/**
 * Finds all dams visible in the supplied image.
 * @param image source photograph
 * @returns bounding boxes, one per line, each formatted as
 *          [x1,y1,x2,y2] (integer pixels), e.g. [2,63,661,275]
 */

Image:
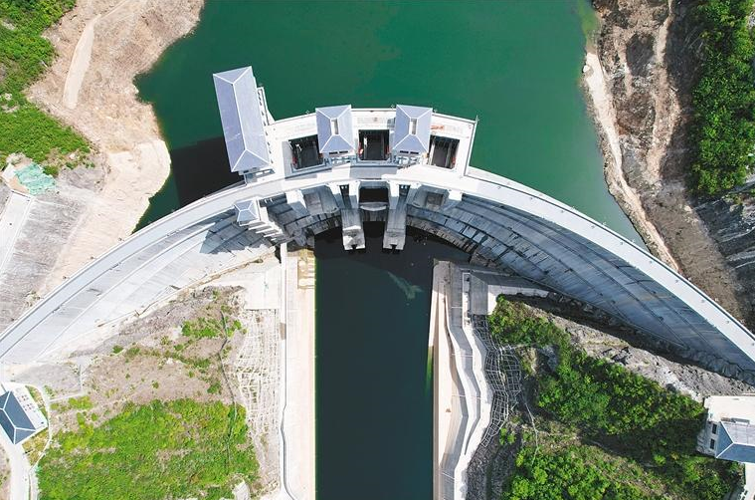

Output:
[0,85,755,381]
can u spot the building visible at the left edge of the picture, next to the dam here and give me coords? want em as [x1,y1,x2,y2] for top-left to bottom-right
[0,391,41,445]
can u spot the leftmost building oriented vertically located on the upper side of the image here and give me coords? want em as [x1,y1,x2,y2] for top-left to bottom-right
[213,66,280,183]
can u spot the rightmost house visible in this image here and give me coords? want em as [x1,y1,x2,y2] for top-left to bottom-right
[693,414,755,463]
